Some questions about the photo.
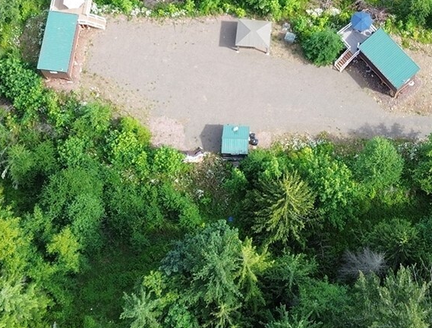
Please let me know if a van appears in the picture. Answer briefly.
No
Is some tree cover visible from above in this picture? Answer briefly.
Yes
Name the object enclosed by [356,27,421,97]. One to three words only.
building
